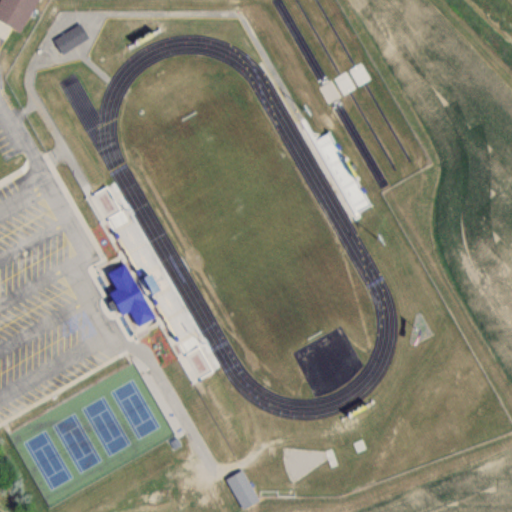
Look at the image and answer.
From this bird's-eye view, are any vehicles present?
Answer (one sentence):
No, there's no vehicle here.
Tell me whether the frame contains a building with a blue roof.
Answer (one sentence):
Yes, a building with a blue roof is visible in the scene.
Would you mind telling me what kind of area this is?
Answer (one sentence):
This looks like a sports ground.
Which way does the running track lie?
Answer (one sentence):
The running track has been laid out diagonally relative to the frame.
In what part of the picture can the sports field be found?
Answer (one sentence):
Look in the center portion of the view to spot the sports field.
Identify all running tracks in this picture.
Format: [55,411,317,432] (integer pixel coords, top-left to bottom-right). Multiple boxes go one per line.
[60,34,398,420]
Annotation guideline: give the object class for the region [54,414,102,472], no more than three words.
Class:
tennis court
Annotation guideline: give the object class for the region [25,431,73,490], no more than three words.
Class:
tennis court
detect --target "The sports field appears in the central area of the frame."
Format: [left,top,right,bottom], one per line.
[120,54,378,400]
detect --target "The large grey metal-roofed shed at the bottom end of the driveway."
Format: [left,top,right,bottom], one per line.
[226,472,259,510]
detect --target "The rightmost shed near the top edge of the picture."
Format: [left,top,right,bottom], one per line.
[54,23,87,53]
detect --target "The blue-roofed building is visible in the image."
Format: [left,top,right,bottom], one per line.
[106,264,153,327]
